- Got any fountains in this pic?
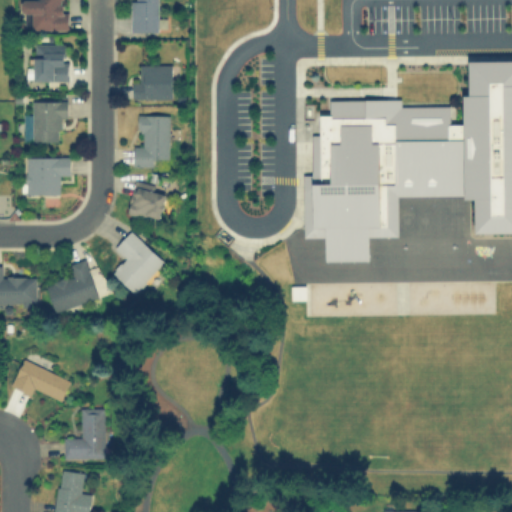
No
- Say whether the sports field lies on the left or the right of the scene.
right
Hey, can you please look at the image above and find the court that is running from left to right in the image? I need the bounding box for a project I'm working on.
[286,190,512,283]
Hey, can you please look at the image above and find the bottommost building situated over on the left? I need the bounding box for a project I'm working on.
[55,470,92,512]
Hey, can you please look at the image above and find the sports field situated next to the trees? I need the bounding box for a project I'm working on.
[255,282,512,512]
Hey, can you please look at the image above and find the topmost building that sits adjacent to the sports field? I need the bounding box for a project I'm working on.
[305,62,512,262]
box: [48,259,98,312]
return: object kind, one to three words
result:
house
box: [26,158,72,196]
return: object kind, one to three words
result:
house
